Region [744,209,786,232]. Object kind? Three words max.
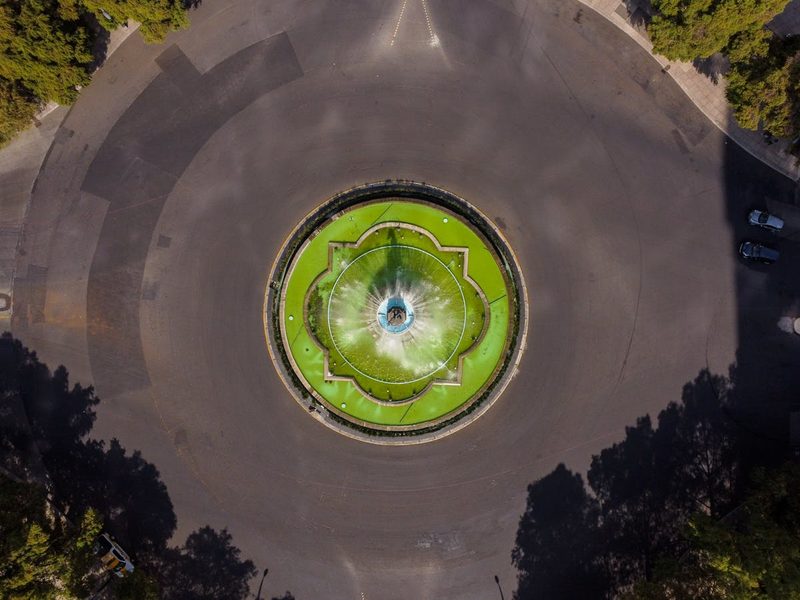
car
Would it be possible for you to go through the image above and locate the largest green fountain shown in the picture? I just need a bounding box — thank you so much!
[278,198,512,428]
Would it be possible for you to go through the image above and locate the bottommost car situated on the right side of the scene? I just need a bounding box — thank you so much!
[737,241,780,262]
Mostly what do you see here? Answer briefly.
paved ground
